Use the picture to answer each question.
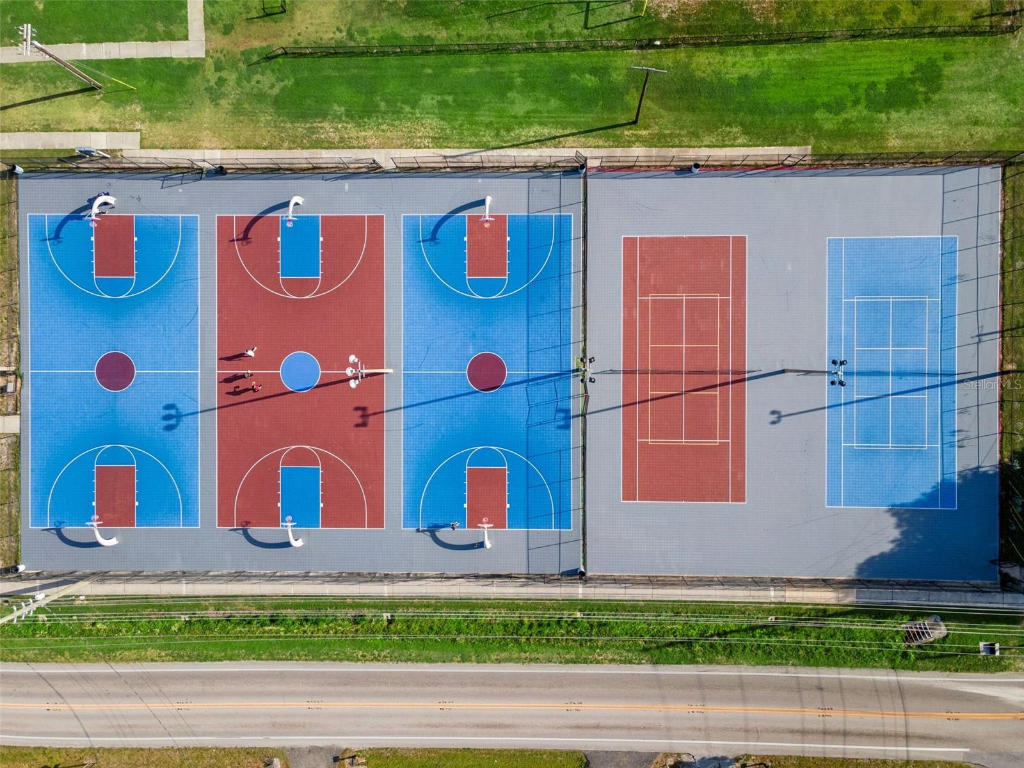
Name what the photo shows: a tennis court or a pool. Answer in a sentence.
Visible in the photo is a tennis court.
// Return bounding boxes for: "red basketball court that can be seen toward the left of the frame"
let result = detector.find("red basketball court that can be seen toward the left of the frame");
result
[216,214,385,529]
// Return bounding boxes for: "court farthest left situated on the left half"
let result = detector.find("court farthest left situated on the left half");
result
[27,214,200,528]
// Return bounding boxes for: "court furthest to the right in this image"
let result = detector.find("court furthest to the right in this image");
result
[826,235,959,510]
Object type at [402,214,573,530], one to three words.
basketball court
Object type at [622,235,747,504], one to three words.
tennis court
